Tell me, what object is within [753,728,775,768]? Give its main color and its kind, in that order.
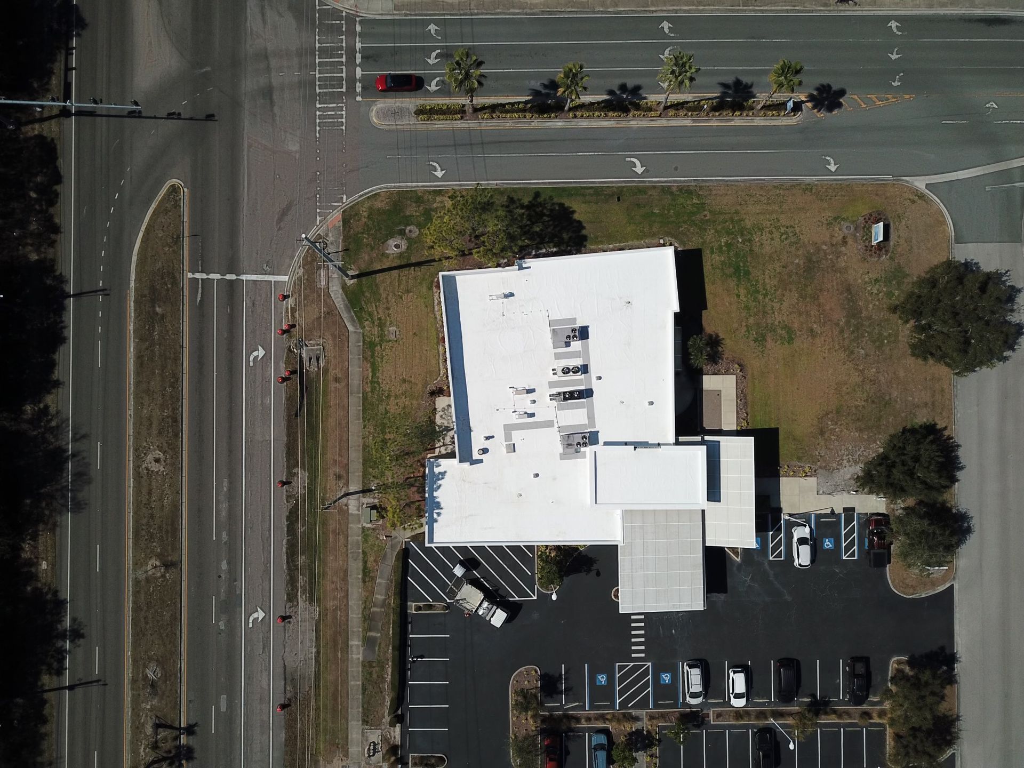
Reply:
black car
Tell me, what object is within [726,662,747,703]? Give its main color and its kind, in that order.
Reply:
white car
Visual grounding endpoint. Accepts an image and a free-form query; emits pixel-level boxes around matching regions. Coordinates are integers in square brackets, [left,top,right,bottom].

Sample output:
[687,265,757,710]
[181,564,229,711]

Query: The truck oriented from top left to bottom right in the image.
[446,577,515,635]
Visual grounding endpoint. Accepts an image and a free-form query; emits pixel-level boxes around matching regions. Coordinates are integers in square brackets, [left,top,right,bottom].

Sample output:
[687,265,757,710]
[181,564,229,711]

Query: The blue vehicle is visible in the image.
[591,731,611,768]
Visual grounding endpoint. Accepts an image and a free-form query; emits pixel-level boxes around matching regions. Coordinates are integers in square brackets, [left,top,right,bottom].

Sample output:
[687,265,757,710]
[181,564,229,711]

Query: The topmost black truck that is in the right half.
[864,513,887,564]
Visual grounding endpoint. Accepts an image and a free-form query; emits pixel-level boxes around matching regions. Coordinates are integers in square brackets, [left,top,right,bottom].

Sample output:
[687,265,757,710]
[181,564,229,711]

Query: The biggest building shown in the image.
[427,248,755,612]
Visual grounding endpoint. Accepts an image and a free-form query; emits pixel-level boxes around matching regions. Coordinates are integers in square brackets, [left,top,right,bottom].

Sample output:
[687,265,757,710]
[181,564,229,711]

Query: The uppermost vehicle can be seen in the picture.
[375,70,416,92]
